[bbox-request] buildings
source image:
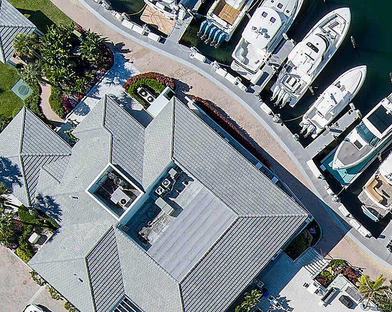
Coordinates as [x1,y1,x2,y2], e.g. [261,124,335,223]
[0,0,47,66]
[0,93,319,312]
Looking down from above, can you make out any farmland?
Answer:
No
